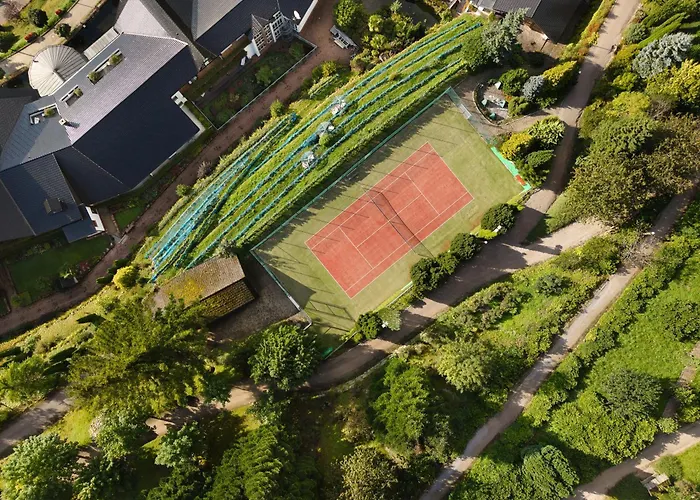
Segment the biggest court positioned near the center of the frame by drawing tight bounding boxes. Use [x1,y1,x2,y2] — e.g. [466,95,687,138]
[255,95,524,350]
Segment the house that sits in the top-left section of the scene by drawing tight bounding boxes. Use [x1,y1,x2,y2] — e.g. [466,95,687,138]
[0,0,327,256]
